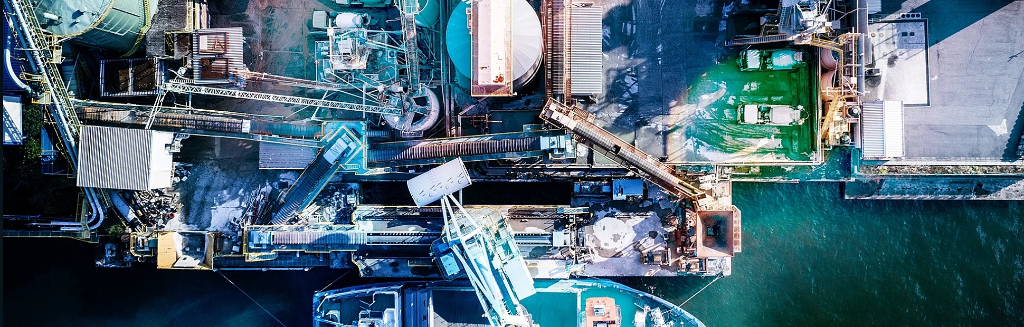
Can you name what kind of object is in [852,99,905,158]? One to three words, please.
shed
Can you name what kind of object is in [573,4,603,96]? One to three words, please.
shed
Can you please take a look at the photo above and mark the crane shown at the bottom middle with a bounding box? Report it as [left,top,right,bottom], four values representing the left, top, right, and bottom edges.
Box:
[407,158,540,327]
